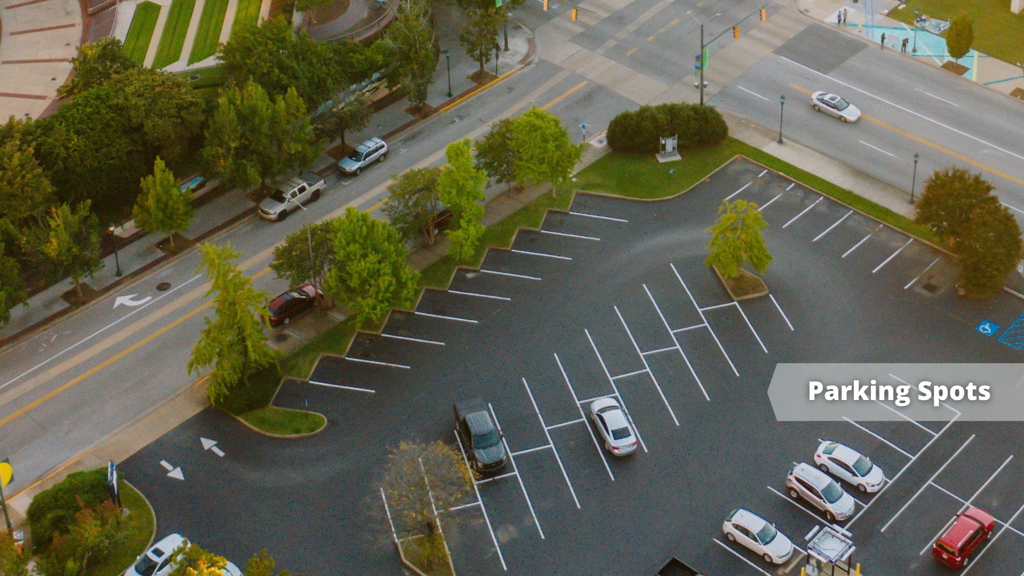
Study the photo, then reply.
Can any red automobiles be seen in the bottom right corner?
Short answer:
Yes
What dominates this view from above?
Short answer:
paved ground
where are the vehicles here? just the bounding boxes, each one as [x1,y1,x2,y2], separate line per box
[815,443,889,495]
[260,286,325,326]
[935,506,1000,568]
[255,174,326,222]
[589,400,634,454]
[784,466,857,522]
[723,510,793,565]
[807,91,864,124]
[455,399,506,470]
[336,136,390,177]
[117,536,190,576]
